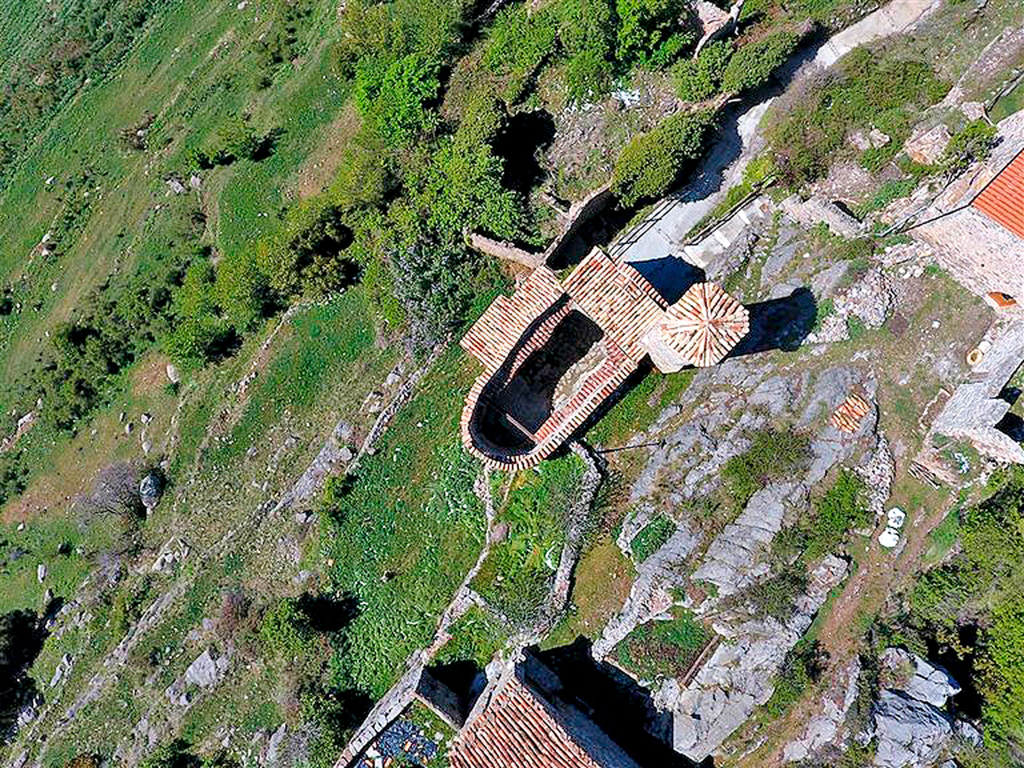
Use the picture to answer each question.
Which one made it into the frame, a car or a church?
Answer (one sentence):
The image shows a church.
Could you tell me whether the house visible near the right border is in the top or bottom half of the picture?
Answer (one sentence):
The top half of the photo is where the house visible near the right border is.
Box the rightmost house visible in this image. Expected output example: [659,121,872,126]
[902,121,1024,319]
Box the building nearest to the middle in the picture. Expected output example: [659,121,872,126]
[459,245,672,472]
